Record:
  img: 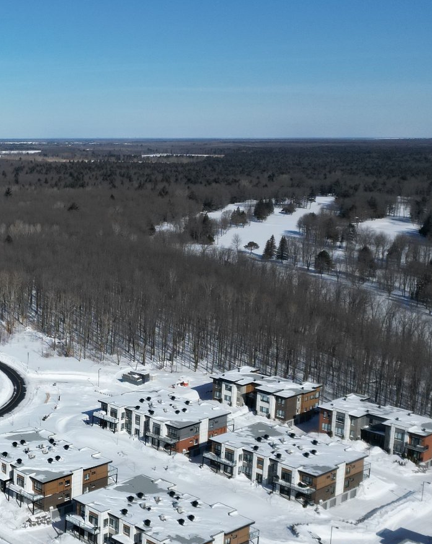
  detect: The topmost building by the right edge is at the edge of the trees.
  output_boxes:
[319,394,432,465]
